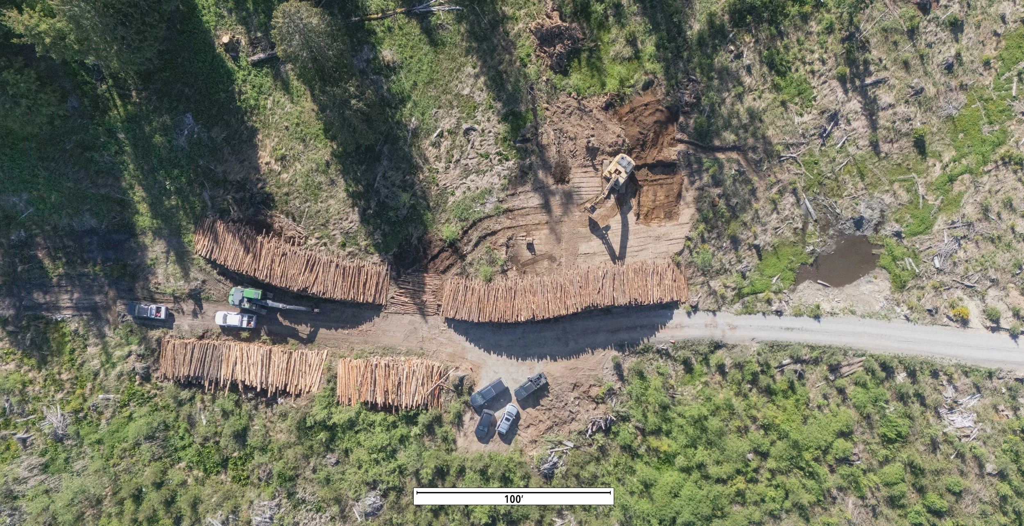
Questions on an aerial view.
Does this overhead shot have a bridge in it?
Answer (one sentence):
No, there is no bridge in the image.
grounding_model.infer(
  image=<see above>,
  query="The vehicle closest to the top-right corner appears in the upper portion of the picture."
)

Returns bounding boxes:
[586,155,634,213]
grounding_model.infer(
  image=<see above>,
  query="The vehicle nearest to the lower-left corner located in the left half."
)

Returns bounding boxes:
[128,303,171,320]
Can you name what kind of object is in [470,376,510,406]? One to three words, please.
truck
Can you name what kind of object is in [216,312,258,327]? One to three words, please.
vehicle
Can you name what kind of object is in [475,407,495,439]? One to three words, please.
car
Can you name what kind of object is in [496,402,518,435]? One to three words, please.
car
